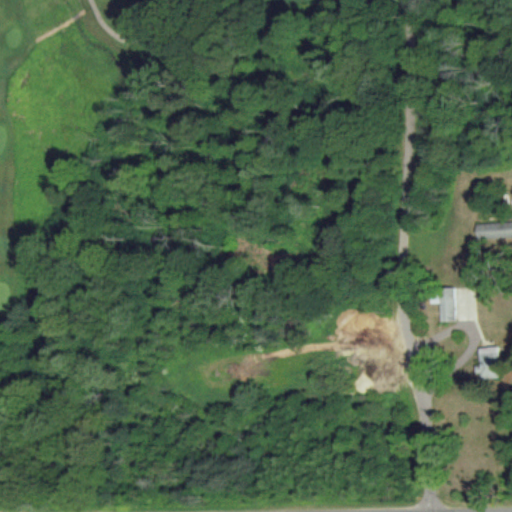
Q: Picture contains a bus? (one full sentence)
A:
No, no bus is visible in the view.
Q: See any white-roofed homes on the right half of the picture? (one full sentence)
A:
Yes, you'll find a white-roofed home on the right half of the picture.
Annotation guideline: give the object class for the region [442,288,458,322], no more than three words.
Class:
house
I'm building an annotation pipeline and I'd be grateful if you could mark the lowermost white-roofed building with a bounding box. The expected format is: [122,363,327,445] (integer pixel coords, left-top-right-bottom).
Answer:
[475,348,500,383]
